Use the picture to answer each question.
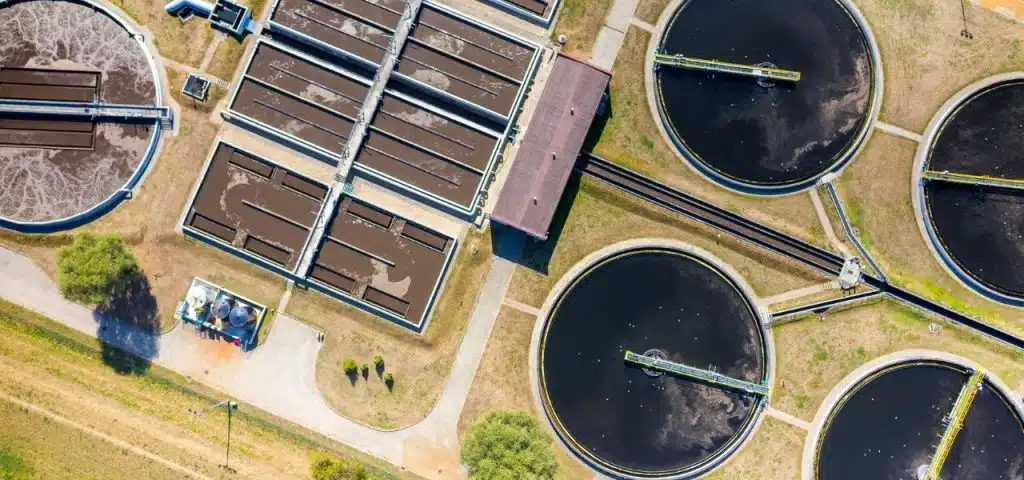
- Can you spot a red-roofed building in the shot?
No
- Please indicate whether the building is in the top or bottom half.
top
